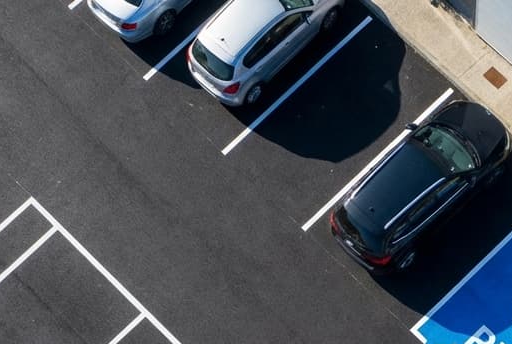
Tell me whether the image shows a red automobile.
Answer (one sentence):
No, I find no red automobile anywhere in the image.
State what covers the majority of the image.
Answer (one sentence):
The bulk of the photo consists of paved ground.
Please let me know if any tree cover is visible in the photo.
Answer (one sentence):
No, there is no tree cover in the image.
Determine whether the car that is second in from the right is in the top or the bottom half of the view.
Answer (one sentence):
The car that is second in from the right sits in the top half of the picture.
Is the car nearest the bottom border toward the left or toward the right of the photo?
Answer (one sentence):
It is on the right.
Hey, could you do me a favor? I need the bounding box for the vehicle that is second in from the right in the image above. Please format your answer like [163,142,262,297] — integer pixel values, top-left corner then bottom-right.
[188,0,351,103]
